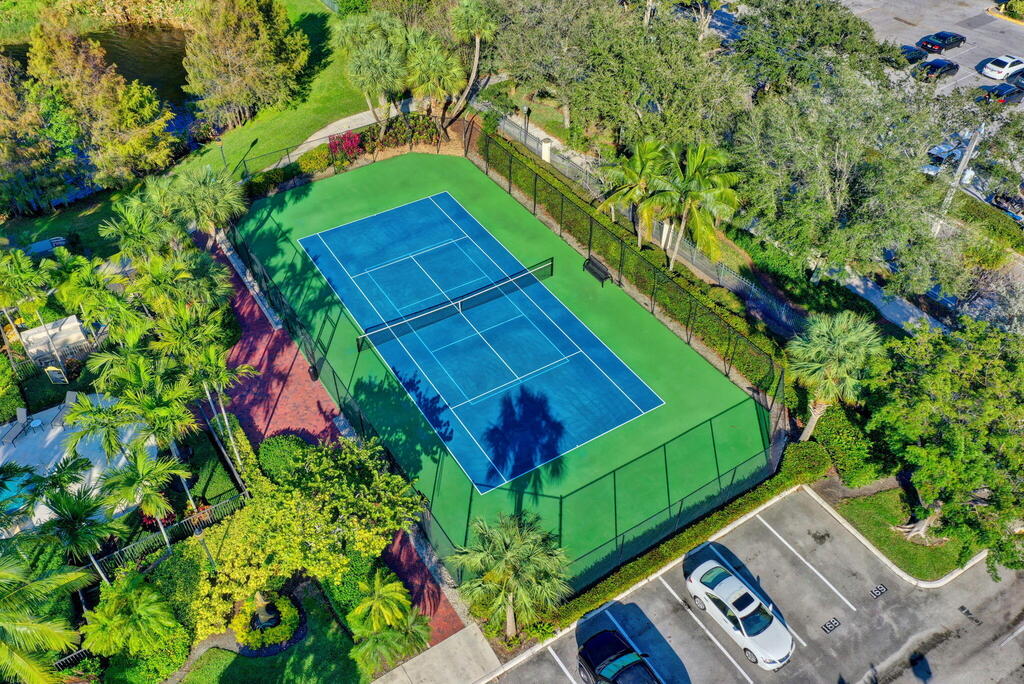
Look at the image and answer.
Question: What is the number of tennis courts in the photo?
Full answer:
The picture shows just 1 tennis court.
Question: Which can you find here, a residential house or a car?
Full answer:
Looking from above, you can make out a car.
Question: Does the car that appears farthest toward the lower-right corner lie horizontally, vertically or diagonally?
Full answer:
I'd say the car that appears farthest toward the lower-right corner is aligned diagonally in the picture.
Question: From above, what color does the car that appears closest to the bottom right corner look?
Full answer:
In this view, the car that appears closest to the bottom right corner is white.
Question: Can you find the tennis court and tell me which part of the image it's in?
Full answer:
The tennis court is located in the center region of the scene.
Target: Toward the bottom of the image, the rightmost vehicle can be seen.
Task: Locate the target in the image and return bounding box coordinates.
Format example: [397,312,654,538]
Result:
[685,561,798,670]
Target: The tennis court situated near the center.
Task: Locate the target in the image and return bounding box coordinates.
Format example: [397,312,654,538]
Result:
[227,152,779,593]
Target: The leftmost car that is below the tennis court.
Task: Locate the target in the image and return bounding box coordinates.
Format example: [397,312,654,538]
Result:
[575,633,655,684]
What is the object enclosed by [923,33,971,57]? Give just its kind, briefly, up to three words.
car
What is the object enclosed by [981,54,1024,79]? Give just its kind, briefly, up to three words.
car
